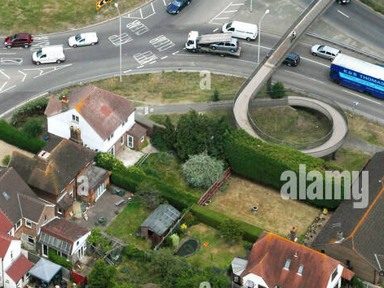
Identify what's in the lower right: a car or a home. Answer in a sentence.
You can see a home in the lower right.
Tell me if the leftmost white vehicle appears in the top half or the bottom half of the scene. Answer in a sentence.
Seen from above, the leftmost white vehicle lies in the top half of the view.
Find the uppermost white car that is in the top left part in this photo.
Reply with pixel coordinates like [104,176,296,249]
[69,30,98,46]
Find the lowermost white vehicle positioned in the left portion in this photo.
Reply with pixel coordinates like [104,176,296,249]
[30,43,66,65]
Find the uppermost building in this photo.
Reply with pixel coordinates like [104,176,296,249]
[41,74,147,168]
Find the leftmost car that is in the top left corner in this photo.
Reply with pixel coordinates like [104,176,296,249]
[3,29,34,46]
